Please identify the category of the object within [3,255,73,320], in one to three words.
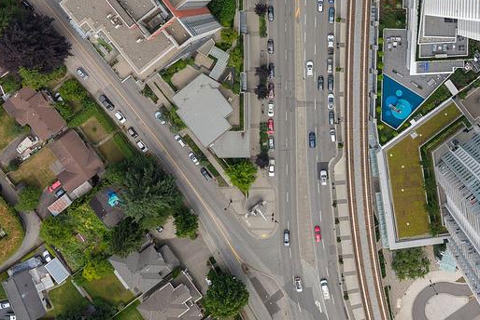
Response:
house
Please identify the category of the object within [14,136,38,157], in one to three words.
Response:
camper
